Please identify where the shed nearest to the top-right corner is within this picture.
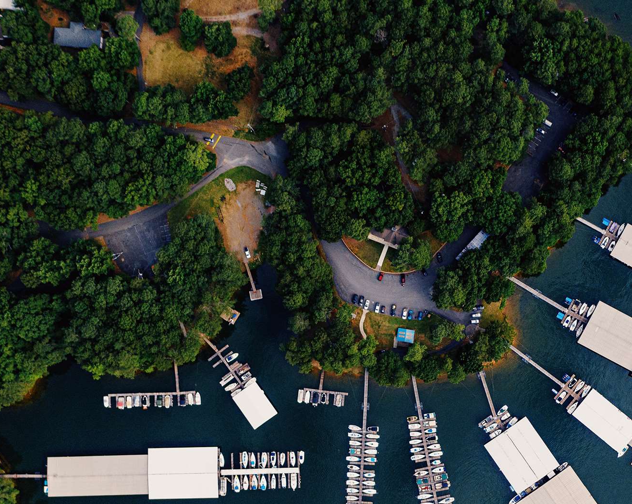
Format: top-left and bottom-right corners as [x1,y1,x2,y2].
[457,230,489,264]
